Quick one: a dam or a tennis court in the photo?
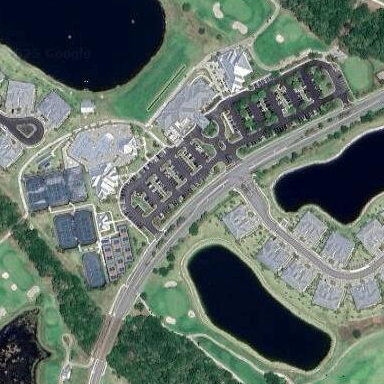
tennis court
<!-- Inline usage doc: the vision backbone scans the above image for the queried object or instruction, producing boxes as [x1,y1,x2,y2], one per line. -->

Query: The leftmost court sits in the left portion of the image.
[22,174,50,210]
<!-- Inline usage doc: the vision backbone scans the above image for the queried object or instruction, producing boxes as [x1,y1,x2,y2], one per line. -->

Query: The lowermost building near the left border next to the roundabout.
[0,129,27,170]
